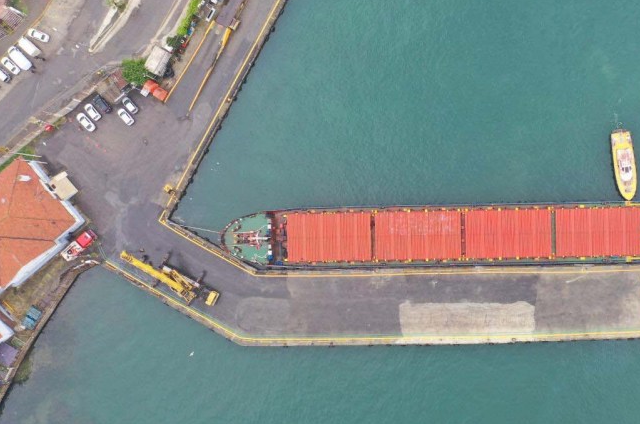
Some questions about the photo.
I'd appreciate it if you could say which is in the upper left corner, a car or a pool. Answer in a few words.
car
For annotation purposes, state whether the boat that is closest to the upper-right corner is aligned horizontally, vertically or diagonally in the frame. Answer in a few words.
vertically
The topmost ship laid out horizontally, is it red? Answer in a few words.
Yes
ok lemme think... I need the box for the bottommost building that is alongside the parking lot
[0,157,84,294]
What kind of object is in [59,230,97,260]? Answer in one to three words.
truck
